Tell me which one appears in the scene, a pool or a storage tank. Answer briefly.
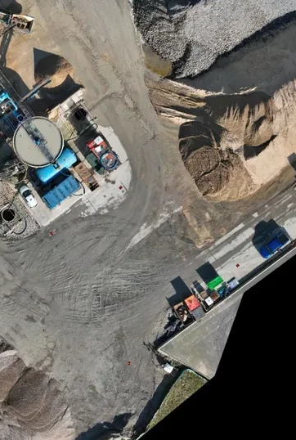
storage tank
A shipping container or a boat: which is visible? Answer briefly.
shipping container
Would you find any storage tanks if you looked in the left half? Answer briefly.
Yes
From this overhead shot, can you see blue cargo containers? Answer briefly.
Yes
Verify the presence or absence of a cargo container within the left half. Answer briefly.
Yes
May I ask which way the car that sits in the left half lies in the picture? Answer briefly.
at an angle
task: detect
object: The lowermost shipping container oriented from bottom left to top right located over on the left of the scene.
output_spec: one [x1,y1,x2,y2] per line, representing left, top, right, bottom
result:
[42,176,79,209]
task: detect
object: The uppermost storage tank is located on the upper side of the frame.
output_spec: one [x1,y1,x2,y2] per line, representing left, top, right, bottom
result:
[12,116,64,168]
